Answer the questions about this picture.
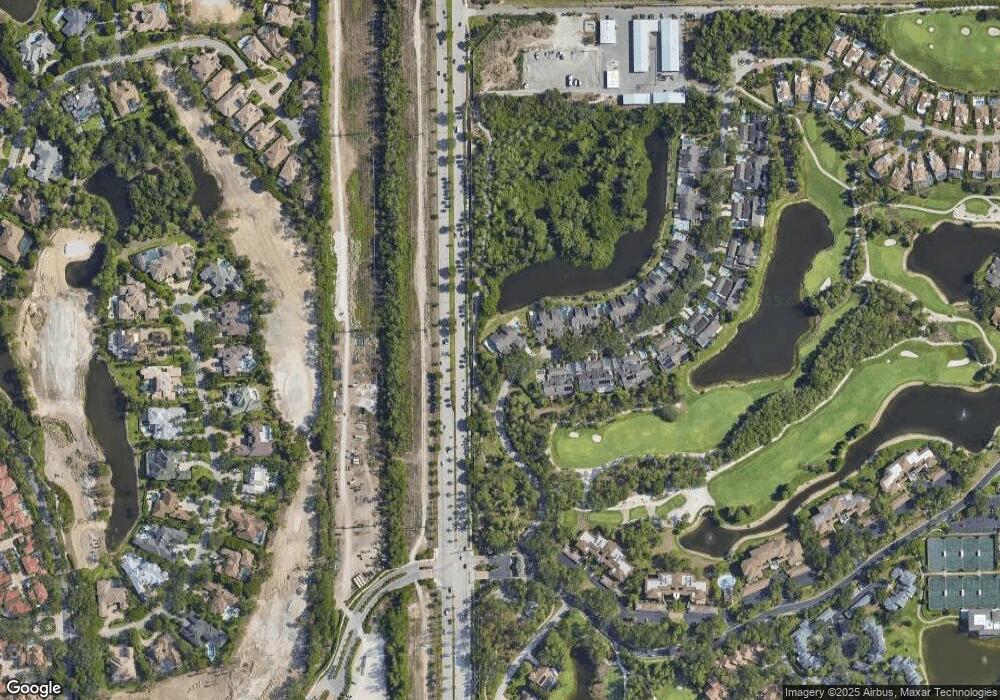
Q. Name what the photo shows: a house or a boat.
house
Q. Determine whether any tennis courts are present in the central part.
No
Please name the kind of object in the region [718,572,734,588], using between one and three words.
swimming pool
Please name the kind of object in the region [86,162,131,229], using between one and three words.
pond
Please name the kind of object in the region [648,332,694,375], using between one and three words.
house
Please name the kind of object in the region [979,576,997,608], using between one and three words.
tennis court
